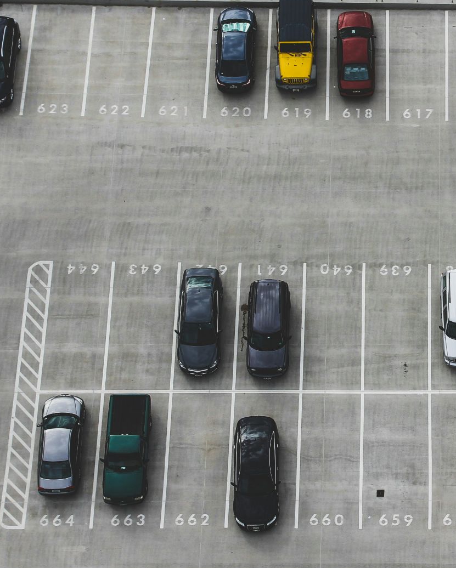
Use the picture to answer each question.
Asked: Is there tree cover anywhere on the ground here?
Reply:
No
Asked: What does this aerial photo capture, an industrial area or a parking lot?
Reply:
parking lot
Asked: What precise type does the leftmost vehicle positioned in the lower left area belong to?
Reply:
car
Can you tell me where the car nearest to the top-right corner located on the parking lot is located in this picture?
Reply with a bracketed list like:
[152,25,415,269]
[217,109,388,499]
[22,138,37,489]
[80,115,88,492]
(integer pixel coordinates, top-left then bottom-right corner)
[331,12,377,95]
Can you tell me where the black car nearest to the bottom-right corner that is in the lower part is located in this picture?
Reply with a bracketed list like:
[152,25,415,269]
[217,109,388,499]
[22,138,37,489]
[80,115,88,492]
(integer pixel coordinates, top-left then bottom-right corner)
[229,415,283,533]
